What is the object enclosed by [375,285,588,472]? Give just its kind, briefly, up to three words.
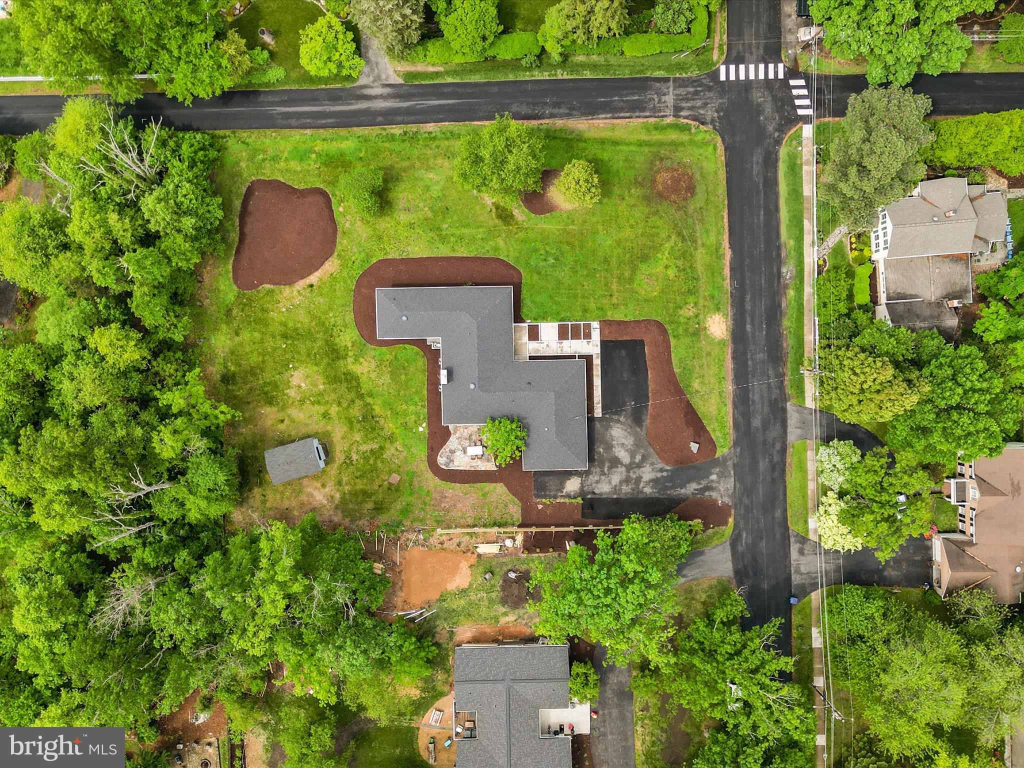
house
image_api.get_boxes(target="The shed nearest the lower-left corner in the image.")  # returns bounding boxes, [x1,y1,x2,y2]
[264,440,331,484]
